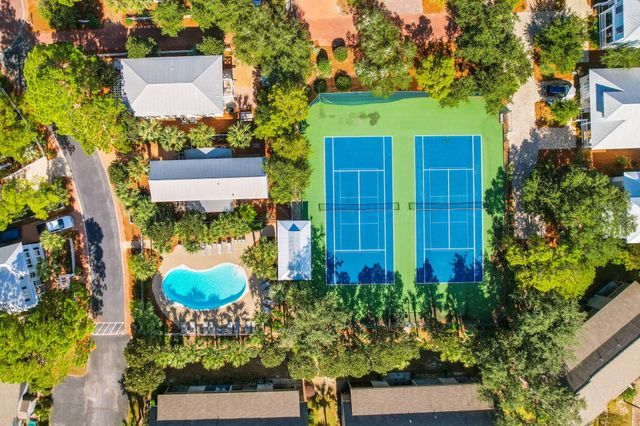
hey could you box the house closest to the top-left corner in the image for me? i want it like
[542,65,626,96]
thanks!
[121,57,238,119]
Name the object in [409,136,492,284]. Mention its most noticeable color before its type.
blue tennis court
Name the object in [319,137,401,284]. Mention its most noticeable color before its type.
blue tennis court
